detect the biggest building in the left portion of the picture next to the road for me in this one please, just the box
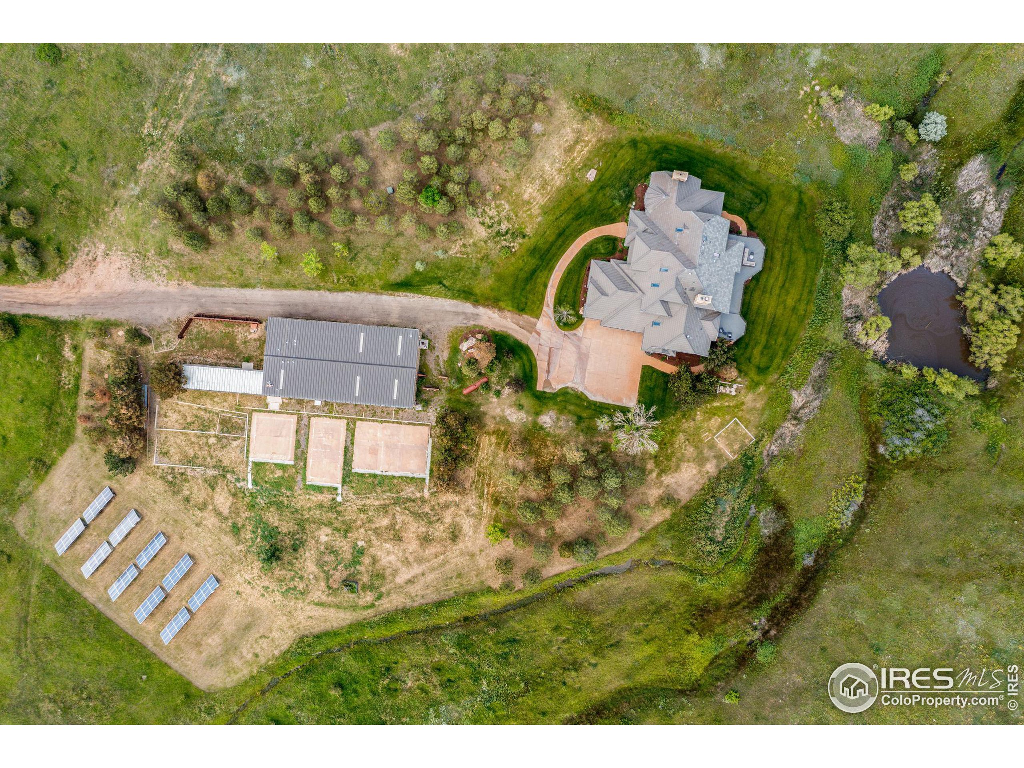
[261,317,420,408]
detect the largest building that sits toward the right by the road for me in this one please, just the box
[583,171,768,356]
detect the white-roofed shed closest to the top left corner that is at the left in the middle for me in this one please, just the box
[181,364,263,395]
